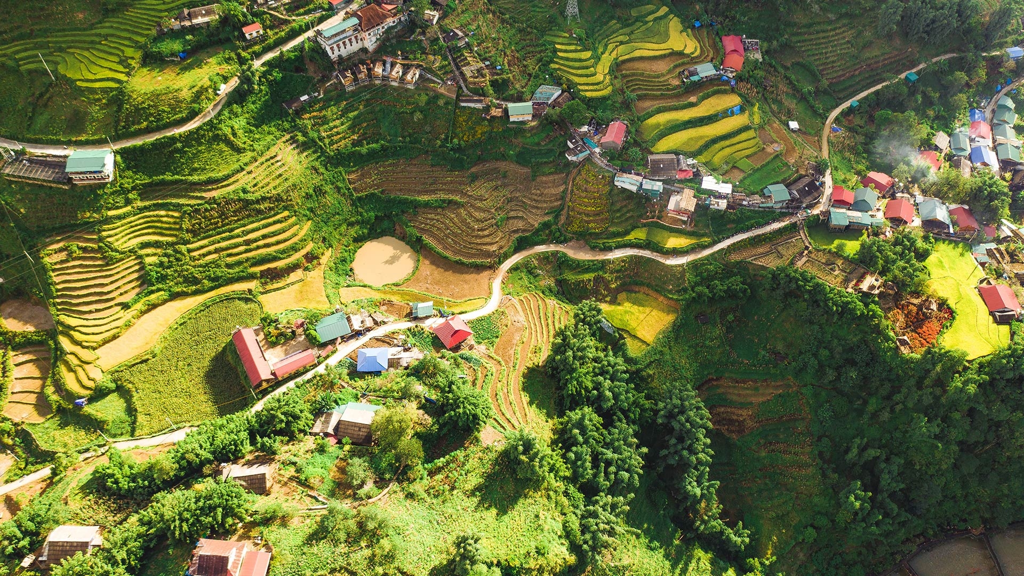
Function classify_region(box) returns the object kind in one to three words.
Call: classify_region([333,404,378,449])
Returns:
house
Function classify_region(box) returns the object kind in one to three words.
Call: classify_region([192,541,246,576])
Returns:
house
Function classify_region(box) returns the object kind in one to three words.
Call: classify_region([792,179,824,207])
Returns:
building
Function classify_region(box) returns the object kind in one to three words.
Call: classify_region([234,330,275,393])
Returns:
building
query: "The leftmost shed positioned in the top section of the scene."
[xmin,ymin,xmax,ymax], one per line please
[0,156,71,196]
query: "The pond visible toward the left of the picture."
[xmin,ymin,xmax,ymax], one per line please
[353,240,418,288]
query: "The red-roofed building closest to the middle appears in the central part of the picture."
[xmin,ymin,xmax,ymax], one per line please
[433,316,472,353]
